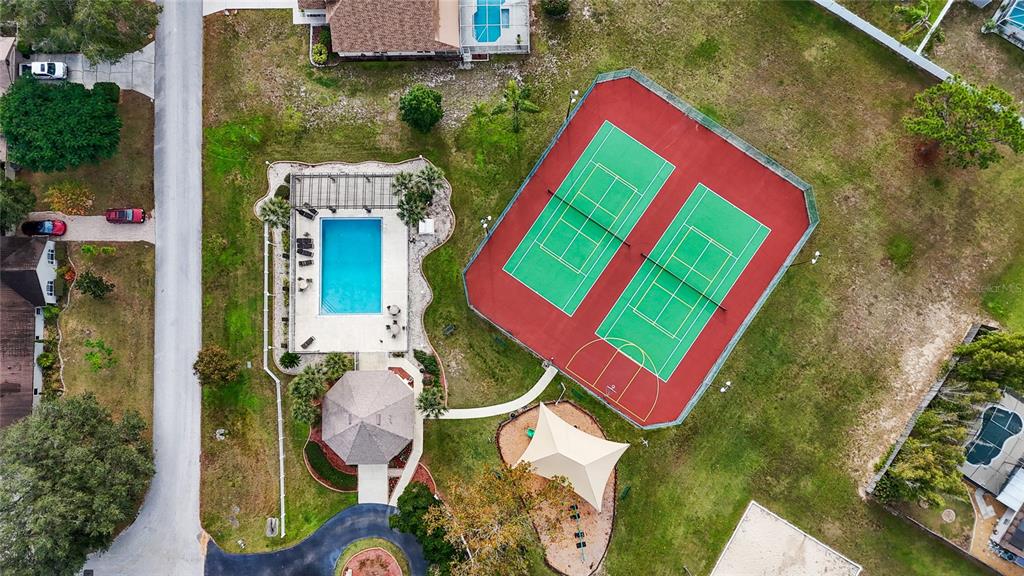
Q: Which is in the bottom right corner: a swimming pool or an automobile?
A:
swimming pool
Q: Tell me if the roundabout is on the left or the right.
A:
left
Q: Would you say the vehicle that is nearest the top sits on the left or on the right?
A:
left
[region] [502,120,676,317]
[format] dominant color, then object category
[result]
green tennis court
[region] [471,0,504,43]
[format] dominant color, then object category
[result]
blue swimming pool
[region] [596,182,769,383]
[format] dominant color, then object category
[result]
green tennis court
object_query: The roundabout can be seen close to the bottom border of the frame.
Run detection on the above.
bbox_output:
[205,503,436,576]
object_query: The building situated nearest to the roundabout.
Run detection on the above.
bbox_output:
[322,371,415,465]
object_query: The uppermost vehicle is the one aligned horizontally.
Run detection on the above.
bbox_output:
[19,61,68,81]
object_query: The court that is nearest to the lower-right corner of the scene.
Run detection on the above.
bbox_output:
[707,501,864,576]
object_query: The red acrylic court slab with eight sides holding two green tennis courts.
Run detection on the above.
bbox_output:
[464,75,810,427]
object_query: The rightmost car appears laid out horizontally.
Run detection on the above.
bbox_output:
[104,208,144,226]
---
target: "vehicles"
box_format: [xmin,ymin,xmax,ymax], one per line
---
[19,219,63,237]
[19,61,68,81]
[104,208,144,226]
